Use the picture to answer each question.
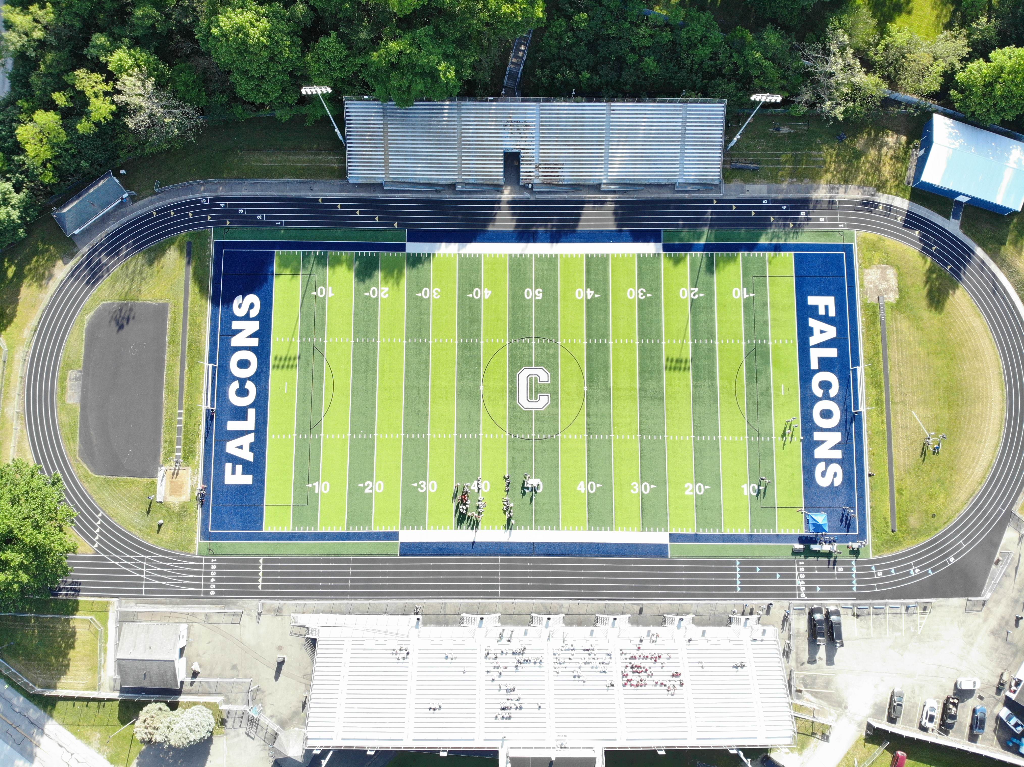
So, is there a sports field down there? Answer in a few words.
Yes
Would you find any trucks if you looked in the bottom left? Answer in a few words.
No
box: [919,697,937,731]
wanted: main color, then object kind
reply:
white car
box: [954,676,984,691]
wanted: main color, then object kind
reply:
white car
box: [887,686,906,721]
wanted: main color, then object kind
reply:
gray car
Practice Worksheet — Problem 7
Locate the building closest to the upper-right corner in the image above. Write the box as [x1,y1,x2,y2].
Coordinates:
[912,113,1024,219]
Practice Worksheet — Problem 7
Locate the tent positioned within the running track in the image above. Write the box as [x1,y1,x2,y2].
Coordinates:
[804,511,828,532]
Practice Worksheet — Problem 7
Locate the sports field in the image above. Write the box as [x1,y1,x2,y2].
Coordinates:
[195,229,874,558]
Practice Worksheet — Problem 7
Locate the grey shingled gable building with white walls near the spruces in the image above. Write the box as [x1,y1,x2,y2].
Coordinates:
[114,621,197,688]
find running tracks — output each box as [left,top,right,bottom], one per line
[26,196,1024,600]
